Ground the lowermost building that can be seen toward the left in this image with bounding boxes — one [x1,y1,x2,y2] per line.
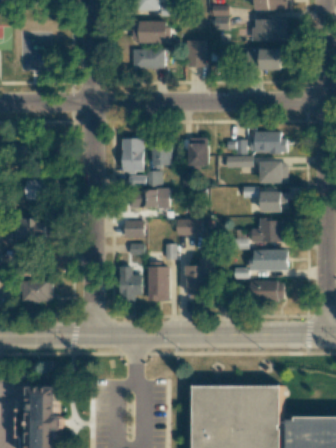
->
[22,386,65,448]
